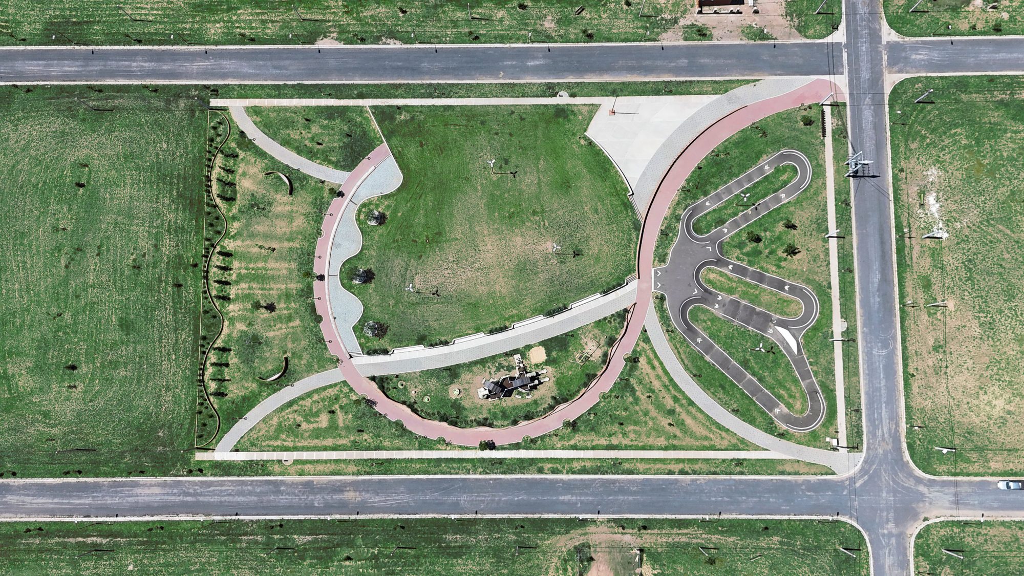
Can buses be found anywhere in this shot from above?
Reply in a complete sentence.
No, the picture doesn't show any bus.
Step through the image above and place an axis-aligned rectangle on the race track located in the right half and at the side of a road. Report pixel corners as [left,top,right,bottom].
[652,149,826,432]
